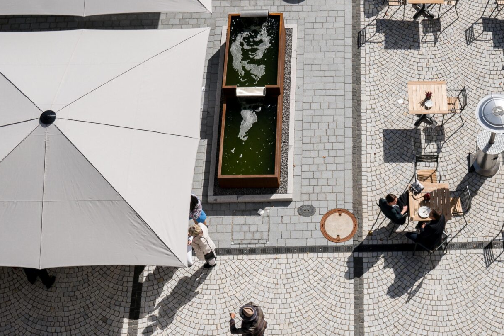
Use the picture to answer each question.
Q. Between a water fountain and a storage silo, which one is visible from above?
water fountain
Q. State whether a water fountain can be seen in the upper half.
Yes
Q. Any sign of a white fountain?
No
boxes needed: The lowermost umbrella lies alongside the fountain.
[0,29,211,271]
